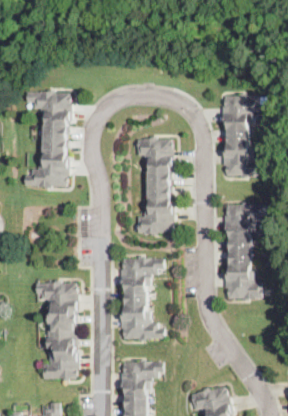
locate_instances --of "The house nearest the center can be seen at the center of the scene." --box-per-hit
[136,138,176,235]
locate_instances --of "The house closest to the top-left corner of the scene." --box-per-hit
[24,92,74,188]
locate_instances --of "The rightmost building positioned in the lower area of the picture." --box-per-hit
[224,204,266,299]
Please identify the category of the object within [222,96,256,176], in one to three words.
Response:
house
